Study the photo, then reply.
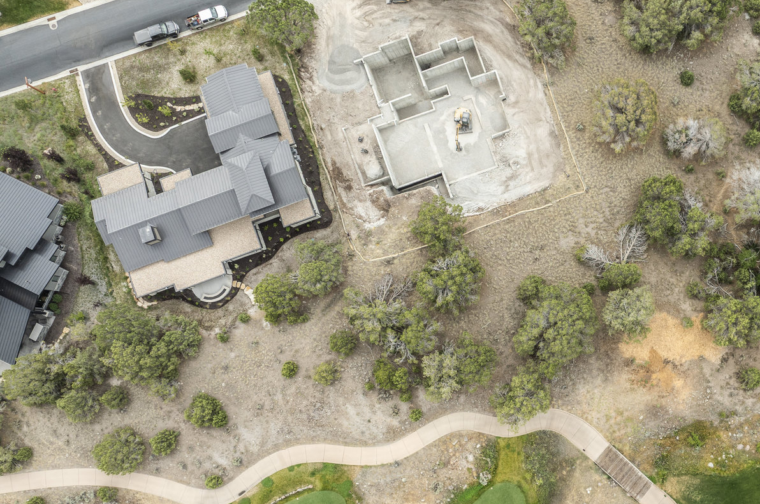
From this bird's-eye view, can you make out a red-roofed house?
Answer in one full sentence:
No, the frame has no red-roofed house in it.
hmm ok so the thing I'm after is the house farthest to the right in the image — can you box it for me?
[91,64,325,298]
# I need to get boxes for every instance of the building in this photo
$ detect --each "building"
[0,172,83,365]
[91,64,325,298]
